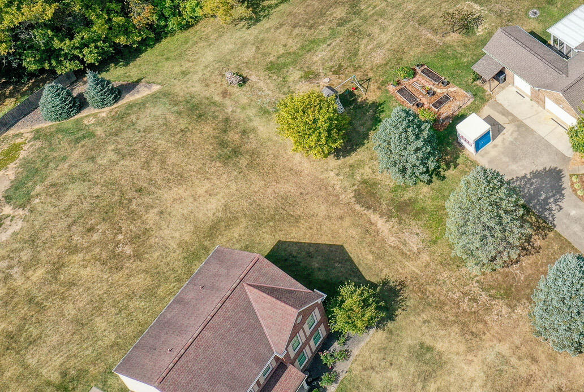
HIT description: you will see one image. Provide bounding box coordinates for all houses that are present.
[111,244,329,392]
[471,3,584,136]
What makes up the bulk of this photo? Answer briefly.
grass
